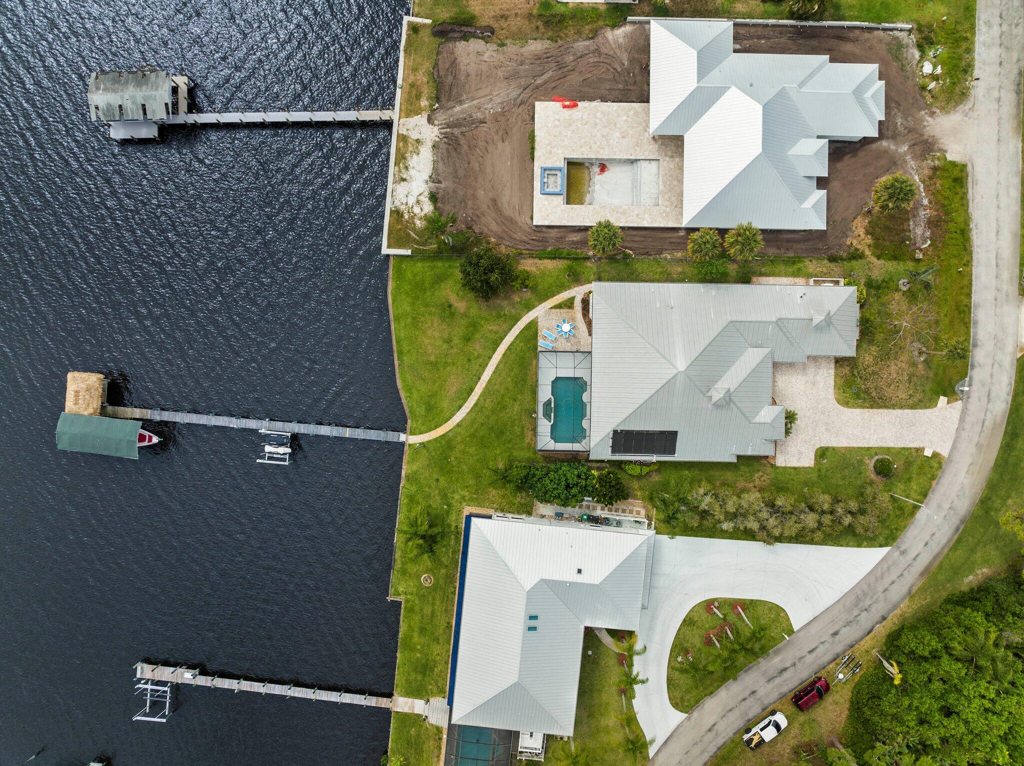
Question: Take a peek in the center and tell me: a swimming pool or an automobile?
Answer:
swimming pool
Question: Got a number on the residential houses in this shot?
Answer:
three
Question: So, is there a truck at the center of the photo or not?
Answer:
No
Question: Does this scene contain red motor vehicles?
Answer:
Yes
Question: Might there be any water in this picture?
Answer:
Yes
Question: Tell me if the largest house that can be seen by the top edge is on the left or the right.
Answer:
right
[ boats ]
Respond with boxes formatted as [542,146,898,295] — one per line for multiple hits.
[266,435,291,443]
[137,429,162,446]
[265,445,291,454]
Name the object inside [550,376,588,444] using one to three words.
swimming pool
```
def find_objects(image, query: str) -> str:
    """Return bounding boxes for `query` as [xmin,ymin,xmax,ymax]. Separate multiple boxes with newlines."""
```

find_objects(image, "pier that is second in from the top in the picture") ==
[102,405,406,445]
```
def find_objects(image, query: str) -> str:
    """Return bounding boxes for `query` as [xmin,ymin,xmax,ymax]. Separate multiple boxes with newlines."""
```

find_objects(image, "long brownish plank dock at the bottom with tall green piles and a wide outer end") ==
[132,657,430,719]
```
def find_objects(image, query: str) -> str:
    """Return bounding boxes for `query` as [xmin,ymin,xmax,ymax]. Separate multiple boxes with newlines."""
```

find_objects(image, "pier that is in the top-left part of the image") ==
[102,73,395,143]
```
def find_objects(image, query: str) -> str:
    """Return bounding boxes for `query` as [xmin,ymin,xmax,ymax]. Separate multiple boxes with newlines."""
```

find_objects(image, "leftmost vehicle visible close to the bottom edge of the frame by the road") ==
[741,711,786,751]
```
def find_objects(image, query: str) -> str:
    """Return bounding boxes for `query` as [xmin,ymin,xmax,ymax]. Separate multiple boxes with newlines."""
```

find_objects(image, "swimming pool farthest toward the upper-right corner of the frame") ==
[565,159,659,206]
